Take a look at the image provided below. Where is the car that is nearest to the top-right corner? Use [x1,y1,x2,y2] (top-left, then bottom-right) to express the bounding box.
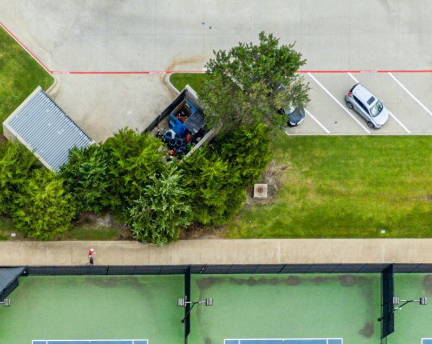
[344,82,392,129]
